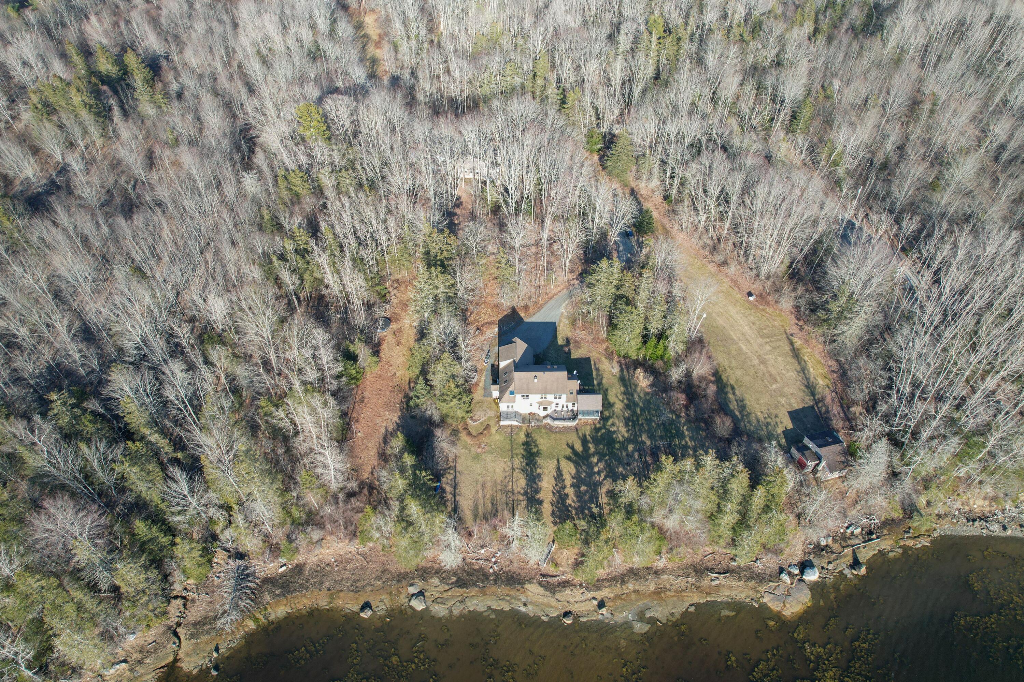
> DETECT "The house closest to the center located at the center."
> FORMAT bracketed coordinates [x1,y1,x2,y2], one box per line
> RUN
[491,337,603,430]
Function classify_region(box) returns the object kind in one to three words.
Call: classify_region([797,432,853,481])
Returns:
barn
